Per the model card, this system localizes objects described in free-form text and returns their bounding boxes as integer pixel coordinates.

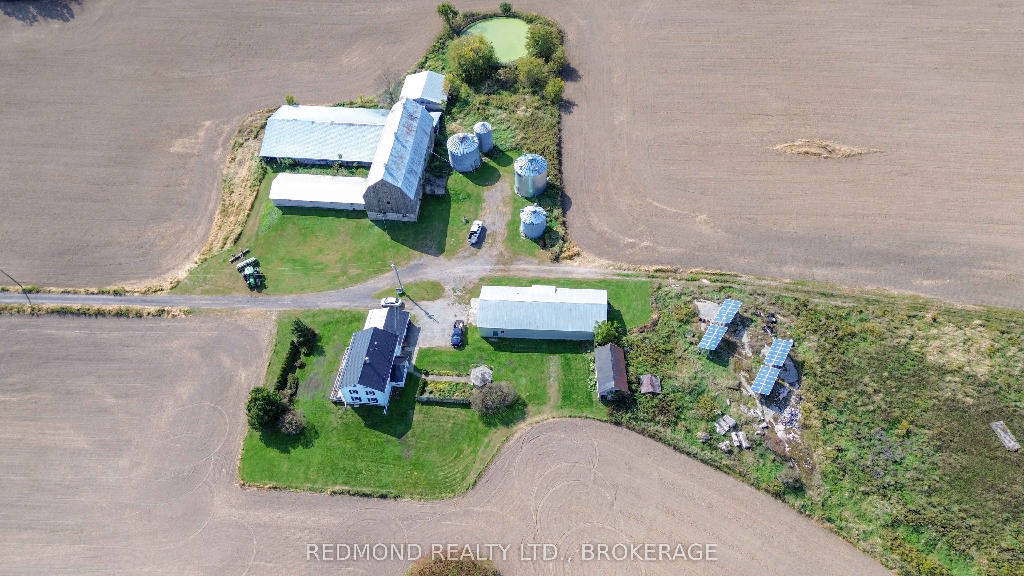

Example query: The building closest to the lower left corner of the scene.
[332,306,412,415]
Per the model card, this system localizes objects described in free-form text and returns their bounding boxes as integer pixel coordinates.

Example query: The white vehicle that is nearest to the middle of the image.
[468,221,482,243]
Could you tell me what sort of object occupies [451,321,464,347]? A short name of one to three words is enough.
vehicle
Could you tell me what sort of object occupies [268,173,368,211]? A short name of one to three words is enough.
shed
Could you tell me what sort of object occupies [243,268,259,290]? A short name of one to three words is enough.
work vehicle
